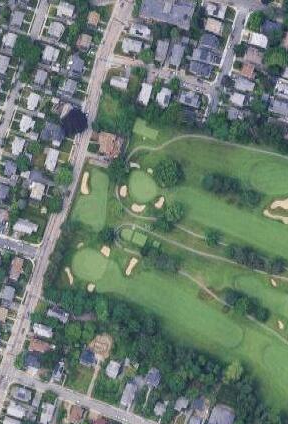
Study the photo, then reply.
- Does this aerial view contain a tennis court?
No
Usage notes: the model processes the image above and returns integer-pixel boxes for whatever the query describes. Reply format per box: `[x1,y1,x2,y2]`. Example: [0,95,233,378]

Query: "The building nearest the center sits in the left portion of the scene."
[95,131,124,161]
